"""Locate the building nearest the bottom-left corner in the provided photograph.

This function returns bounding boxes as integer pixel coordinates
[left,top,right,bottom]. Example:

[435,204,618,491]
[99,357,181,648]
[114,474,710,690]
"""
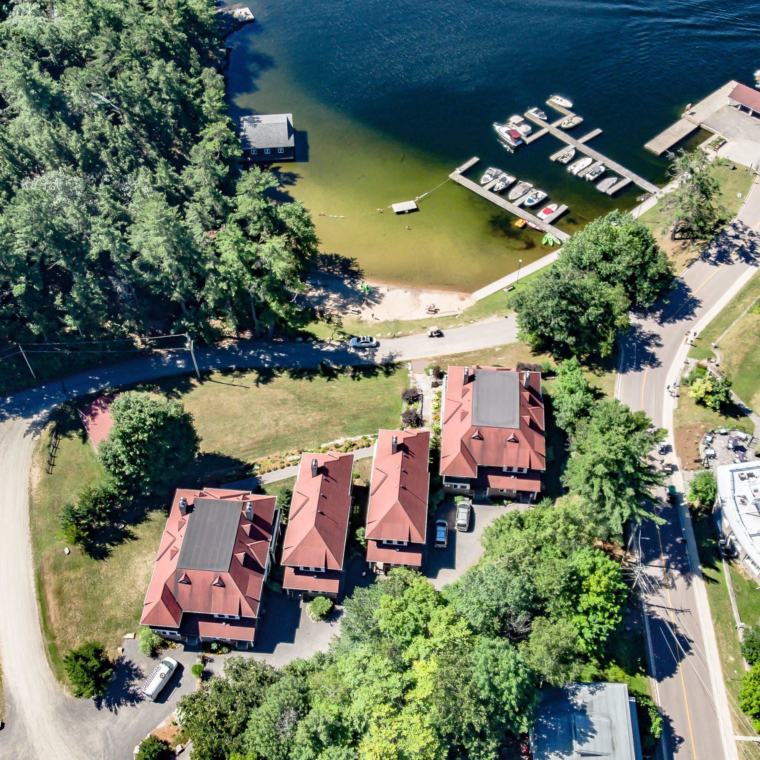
[139,483,286,655]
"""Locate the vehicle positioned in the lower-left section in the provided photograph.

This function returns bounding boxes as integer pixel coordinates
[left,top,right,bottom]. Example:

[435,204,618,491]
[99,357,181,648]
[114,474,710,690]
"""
[141,655,177,700]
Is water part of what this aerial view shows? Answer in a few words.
Yes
